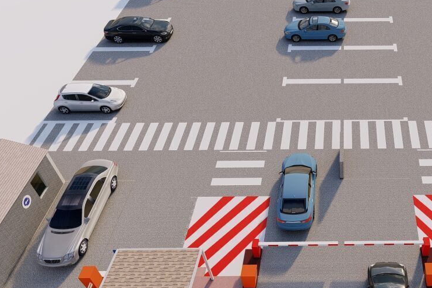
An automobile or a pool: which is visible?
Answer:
automobile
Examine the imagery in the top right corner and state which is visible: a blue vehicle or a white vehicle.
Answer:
blue vehicle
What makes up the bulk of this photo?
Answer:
paved ground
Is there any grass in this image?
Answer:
No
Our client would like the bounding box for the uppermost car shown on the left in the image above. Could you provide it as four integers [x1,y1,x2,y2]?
[104,18,174,44]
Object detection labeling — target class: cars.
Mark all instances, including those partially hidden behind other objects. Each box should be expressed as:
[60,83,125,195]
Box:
[104,18,174,44]
[365,263,416,288]
[283,16,347,43]
[35,160,120,268]
[52,83,127,115]
[276,152,318,229]
[292,0,351,14]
